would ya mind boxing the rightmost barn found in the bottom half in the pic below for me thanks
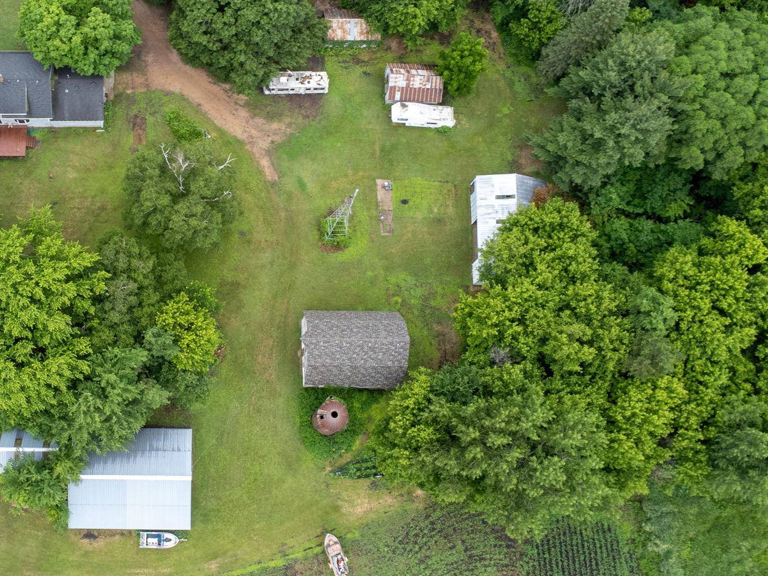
[300,311,408,388]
